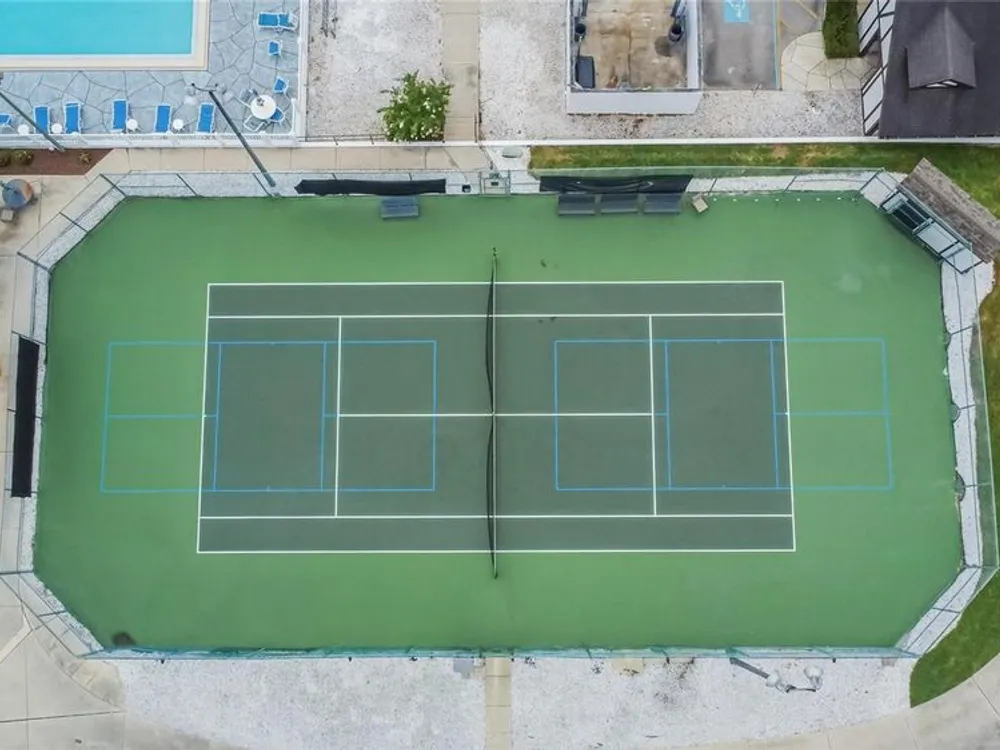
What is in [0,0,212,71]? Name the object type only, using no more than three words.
swimming pool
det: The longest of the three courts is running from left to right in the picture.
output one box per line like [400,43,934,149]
[33,195,963,648]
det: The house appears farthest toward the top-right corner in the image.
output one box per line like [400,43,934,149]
[856,0,1000,142]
